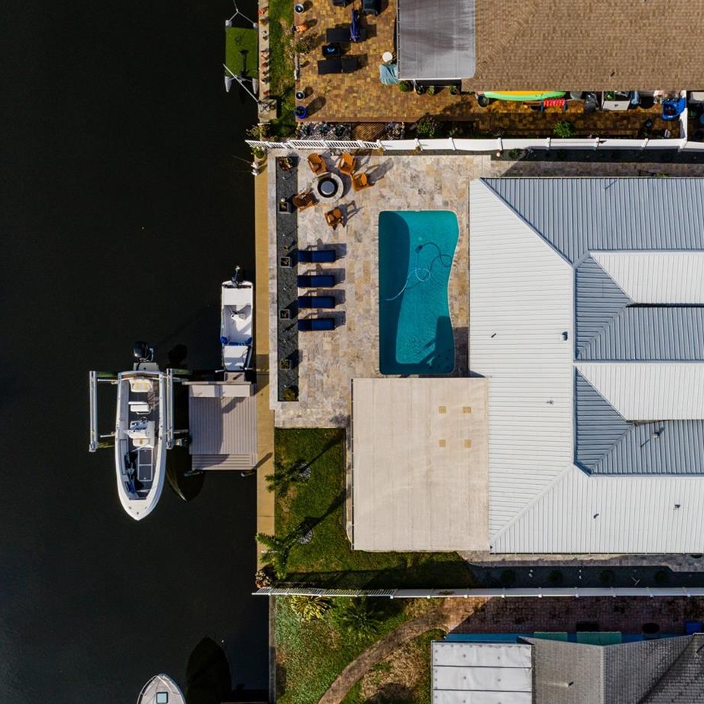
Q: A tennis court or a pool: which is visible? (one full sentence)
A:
I can see a pool in this picture.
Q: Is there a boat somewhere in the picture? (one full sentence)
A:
Yes, there's a boat here.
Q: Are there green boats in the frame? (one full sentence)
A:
Yes, the picture does show a green boat.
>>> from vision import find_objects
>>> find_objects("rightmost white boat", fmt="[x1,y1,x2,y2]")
[215,267,255,373]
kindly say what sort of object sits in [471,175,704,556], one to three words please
house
